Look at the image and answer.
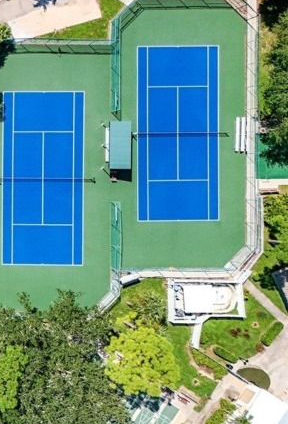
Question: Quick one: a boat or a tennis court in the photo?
tennis court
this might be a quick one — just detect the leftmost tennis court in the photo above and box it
[0,43,112,340]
